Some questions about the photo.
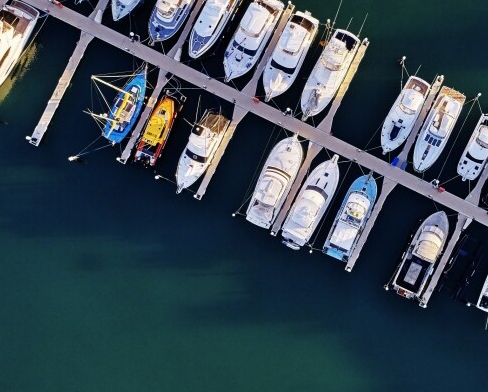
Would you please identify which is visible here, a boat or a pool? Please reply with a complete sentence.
The image shows a boat.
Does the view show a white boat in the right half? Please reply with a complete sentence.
Yes, a white boat is visible in the right half.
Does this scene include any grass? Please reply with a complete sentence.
No, there's no grass in this view.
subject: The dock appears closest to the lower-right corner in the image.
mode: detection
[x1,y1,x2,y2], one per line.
[420,212,472,310]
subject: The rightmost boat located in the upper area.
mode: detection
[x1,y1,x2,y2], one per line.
[459,112,488,180]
